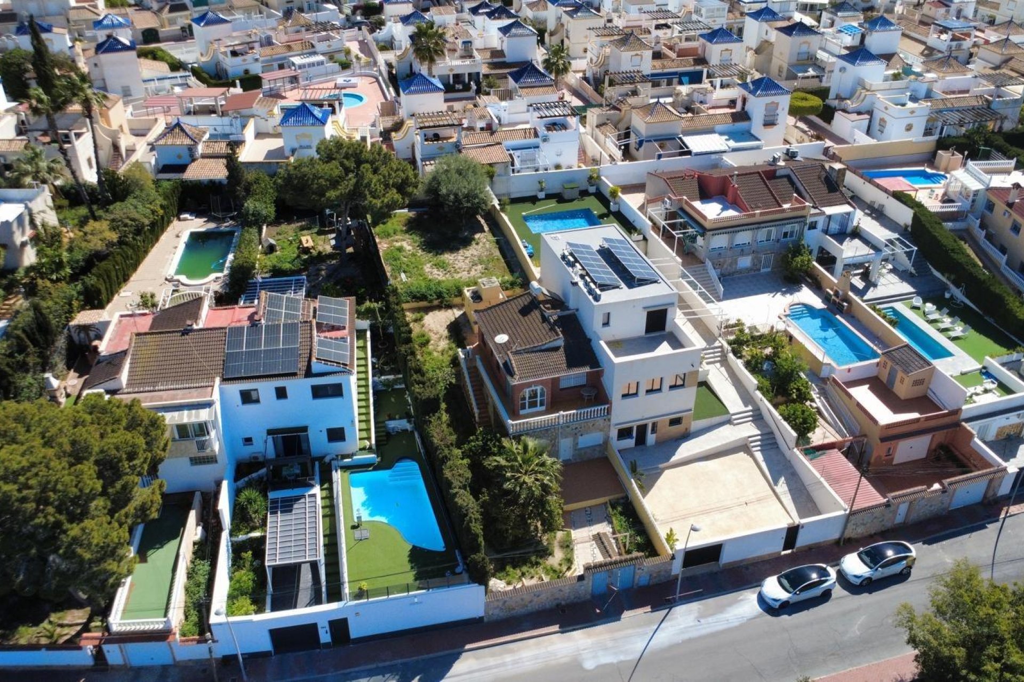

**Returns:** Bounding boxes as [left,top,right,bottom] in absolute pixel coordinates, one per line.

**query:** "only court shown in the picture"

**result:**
[121,492,192,620]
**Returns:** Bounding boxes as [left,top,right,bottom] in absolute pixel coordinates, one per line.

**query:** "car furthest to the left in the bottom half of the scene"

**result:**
[758,559,841,608]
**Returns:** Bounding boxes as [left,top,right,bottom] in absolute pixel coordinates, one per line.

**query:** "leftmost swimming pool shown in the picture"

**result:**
[165,228,240,283]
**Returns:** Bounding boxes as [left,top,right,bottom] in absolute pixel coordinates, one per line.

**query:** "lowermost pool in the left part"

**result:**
[349,459,446,553]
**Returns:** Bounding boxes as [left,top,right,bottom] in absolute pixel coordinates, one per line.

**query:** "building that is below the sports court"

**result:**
[64,615,217,665]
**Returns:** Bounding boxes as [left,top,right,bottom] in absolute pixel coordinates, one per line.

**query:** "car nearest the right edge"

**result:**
[839,538,920,585]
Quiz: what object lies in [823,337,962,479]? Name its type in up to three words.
house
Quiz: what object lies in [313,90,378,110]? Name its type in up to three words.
swimming pool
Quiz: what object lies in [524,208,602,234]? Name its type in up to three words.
swimming pool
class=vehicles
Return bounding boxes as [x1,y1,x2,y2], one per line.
[758,559,841,608]
[839,538,920,585]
